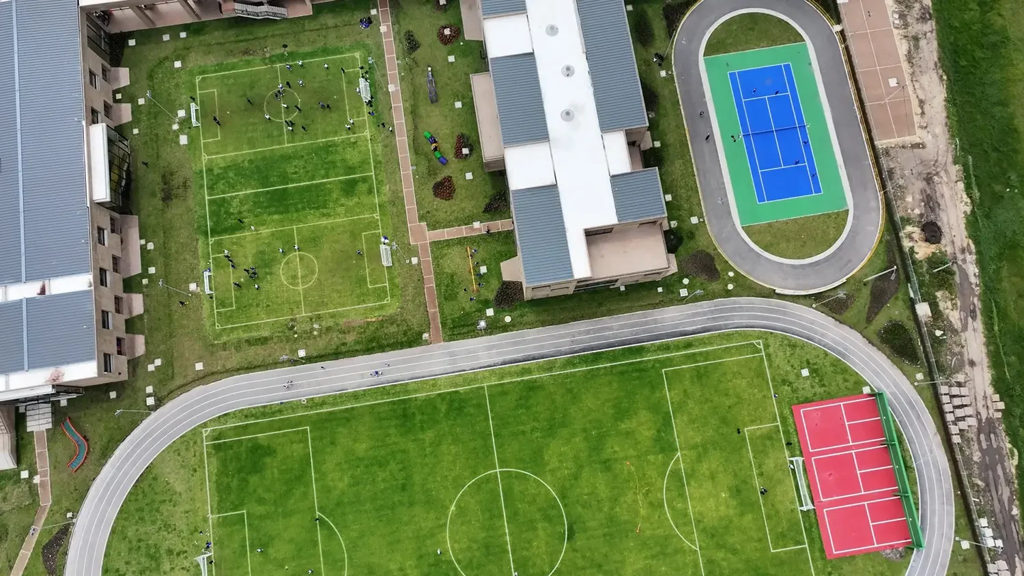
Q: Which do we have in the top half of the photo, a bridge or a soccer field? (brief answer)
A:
soccer field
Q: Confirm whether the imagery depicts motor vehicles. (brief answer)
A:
No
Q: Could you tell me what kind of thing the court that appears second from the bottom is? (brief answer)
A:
tennis court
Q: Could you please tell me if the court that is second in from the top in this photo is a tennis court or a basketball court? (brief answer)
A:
tennis court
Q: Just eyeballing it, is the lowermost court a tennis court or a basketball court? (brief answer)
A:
tennis court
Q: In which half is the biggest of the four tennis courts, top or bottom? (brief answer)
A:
top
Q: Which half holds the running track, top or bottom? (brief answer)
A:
bottom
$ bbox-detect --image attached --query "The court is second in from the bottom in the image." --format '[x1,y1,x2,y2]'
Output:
[804,443,900,506]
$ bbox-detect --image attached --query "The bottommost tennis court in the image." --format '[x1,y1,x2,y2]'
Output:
[815,494,914,559]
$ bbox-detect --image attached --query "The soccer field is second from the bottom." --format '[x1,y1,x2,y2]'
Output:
[209,214,390,329]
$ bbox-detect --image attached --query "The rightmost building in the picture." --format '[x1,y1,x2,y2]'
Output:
[470,0,670,300]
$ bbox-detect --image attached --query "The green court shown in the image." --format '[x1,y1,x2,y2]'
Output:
[704,41,849,226]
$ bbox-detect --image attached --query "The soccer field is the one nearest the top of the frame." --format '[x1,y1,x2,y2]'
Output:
[196,53,369,158]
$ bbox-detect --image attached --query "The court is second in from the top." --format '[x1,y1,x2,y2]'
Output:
[792,392,888,456]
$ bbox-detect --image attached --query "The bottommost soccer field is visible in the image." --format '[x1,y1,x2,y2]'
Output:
[201,339,814,576]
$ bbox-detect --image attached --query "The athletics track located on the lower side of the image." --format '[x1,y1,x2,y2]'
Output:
[65,295,956,576]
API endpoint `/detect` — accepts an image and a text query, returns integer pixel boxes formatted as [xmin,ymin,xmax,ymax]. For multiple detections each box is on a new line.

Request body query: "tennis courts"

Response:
[815,494,914,559]
[804,443,900,506]
[792,392,888,456]
[704,41,849,226]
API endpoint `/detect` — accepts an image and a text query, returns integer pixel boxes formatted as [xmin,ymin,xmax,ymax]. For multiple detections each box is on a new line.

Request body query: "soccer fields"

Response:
[209,214,390,329]
[196,53,369,158]
[201,339,814,576]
